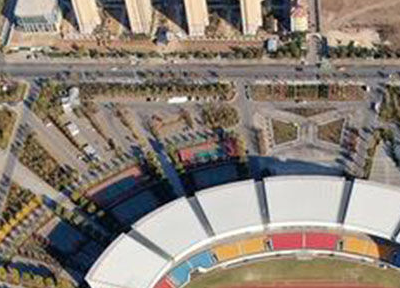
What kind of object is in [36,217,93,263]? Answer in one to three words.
sports court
